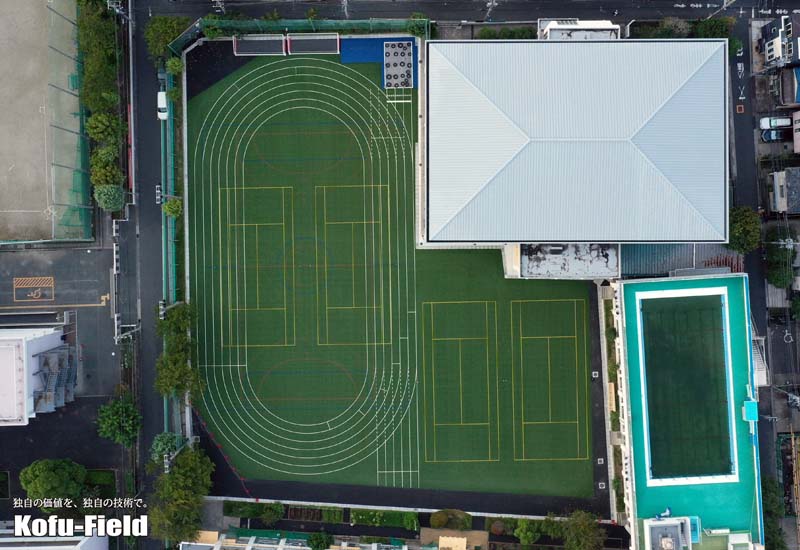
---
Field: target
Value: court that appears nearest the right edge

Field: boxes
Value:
[511,299,589,461]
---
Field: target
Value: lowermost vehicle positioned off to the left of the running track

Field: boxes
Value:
[157,91,170,122]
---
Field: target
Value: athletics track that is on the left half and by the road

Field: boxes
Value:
[195,57,419,486]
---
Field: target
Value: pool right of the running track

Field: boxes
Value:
[634,287,740,487]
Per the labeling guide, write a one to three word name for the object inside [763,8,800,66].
house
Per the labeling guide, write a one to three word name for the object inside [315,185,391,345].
tennis court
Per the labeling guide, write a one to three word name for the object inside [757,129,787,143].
car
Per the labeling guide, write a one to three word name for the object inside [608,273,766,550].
building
